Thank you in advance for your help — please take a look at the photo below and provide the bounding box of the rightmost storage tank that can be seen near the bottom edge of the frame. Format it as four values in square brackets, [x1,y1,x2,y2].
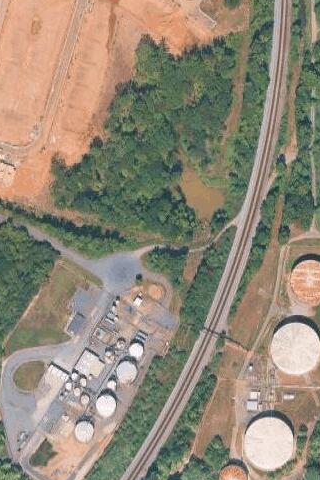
[243,418,296,470]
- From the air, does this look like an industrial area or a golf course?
industrial area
